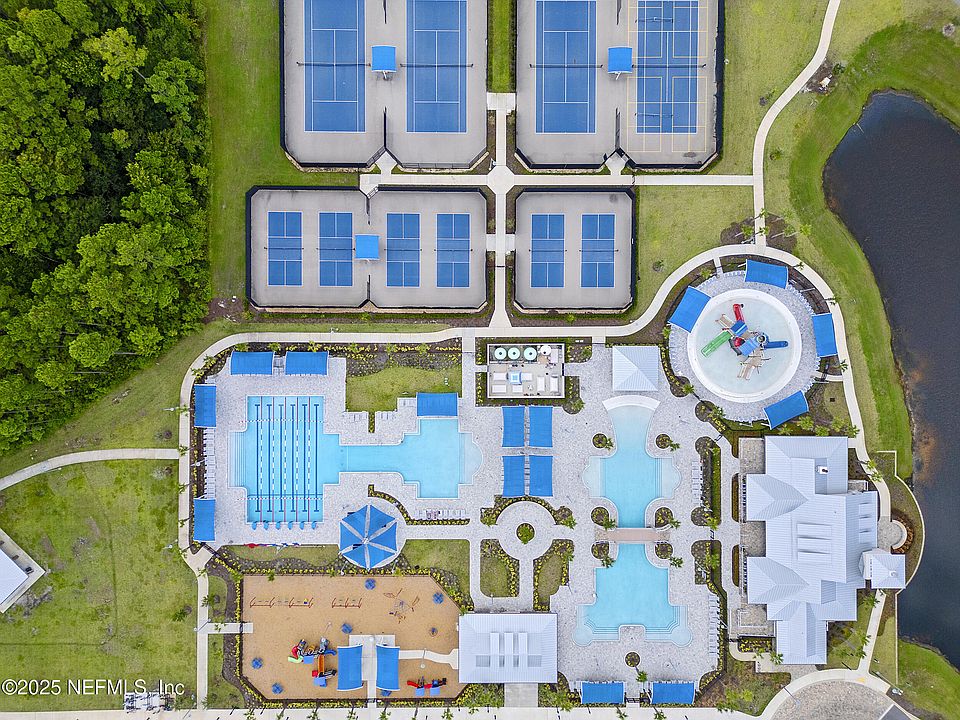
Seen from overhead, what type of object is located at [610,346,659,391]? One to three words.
building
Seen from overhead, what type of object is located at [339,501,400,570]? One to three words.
umbrella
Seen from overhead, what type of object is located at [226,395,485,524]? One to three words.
swimming pool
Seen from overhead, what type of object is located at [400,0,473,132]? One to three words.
tennis court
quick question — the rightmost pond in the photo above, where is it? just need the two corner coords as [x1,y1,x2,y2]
[819,93,960,673]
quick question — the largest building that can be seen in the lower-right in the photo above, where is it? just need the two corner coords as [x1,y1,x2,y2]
[742,436,878,664]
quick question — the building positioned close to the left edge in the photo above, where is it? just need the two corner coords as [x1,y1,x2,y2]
[0,548,29,607]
